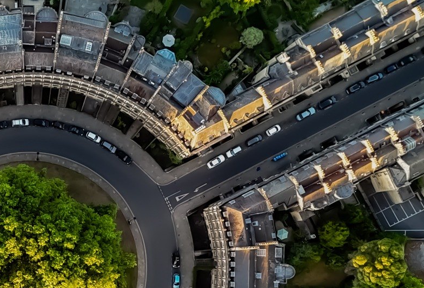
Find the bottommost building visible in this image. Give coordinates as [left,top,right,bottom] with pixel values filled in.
[207,240,291,288]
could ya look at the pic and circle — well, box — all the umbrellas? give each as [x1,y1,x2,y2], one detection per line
[161,35,174,47]
[277,228,288,239]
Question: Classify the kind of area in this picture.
residential area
